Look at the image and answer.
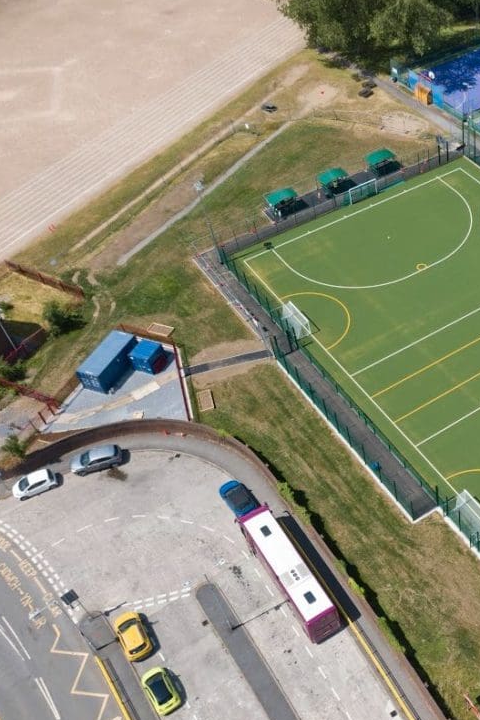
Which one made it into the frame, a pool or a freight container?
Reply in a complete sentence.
Looking from above, you can make out a freight container.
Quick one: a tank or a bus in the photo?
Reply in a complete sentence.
The image shows a bus.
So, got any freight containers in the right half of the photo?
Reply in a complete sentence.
No, there's no freight container to be seen in the right half of the photo.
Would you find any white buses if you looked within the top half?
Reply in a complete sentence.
No, the scene shows no white bus within the top half.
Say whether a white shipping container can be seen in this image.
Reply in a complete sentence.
No, I can see no white shipping container in this picture.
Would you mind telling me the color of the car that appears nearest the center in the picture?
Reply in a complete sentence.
The car that appears nearest the center is blue.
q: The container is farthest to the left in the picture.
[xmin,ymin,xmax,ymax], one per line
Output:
[76,330,138,393]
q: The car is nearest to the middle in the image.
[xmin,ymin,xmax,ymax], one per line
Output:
[221,480,258,521]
